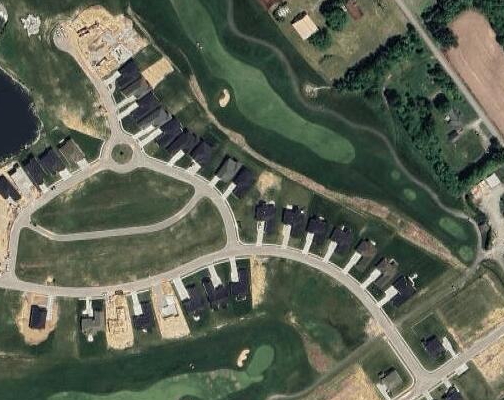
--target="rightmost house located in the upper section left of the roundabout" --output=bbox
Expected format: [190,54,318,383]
[57,137,86,165]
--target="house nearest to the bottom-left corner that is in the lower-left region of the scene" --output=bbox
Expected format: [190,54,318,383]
[28,304,49,330]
